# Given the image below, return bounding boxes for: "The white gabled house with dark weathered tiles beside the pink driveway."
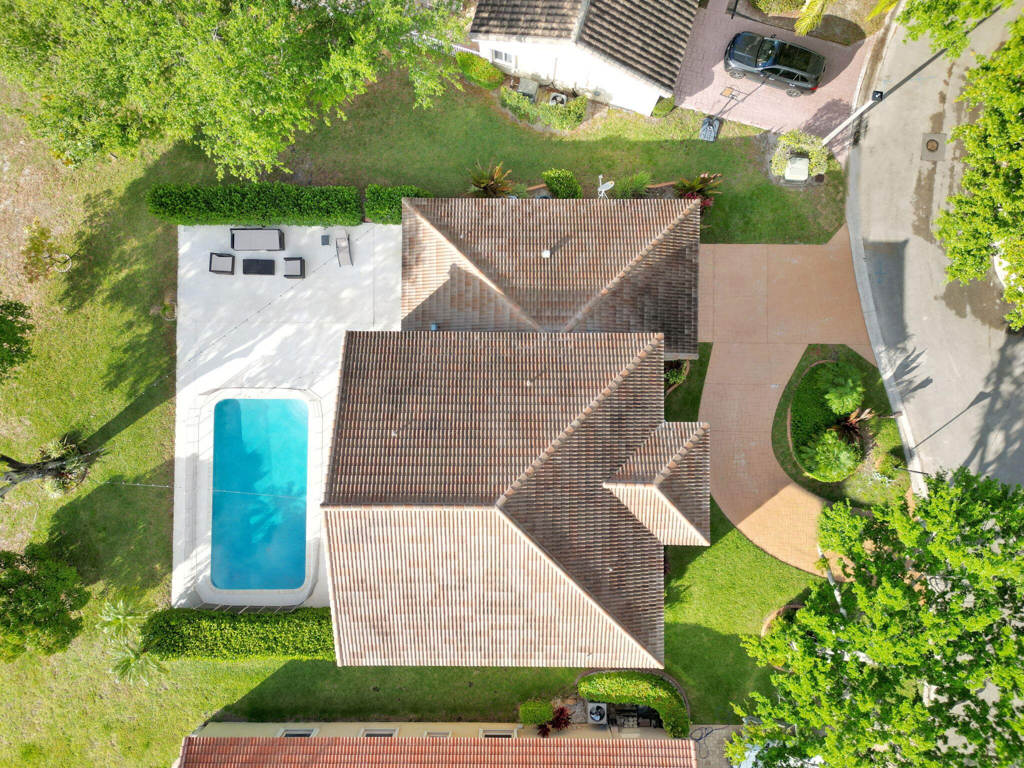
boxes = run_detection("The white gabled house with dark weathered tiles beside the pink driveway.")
[468,0,702,110]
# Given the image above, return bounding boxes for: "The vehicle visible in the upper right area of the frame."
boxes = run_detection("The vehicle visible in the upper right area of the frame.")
[722,35,828,101]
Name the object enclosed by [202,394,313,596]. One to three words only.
swimming pool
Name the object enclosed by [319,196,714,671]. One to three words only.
house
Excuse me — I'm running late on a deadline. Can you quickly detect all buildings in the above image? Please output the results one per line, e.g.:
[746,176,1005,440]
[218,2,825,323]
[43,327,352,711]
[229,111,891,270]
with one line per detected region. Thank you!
[176,724,702,768]
[319,196,714,671]
[468,0,702,110]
